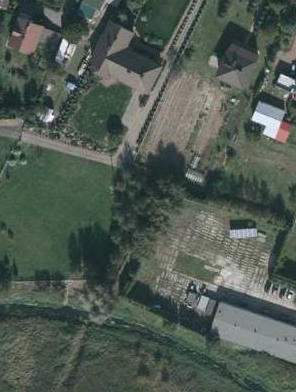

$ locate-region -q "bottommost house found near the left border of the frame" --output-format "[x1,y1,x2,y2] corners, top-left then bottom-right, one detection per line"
[7,18,45,56]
